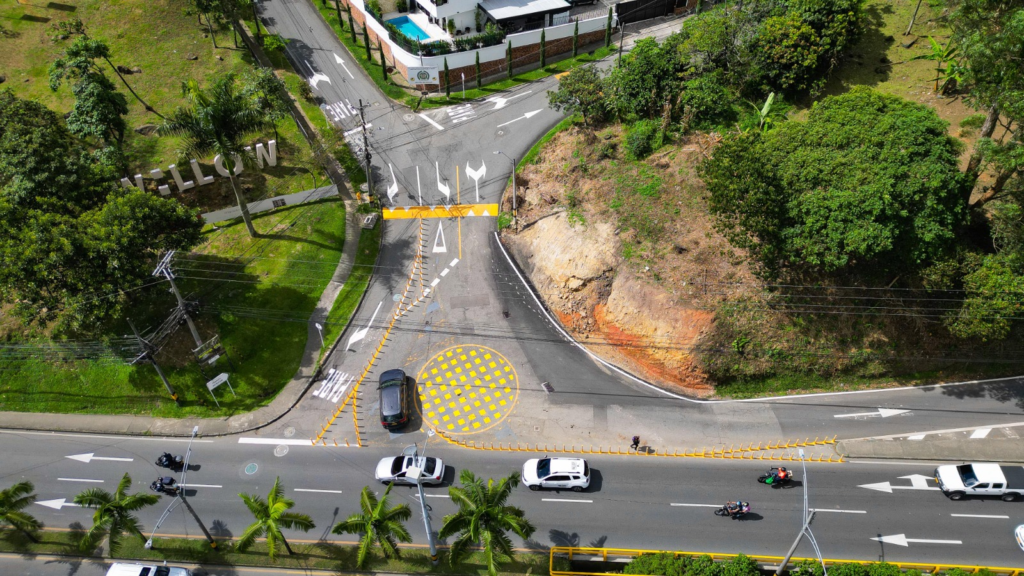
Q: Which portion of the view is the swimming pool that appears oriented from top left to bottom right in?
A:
top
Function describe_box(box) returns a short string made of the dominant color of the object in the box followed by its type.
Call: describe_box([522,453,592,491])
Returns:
white car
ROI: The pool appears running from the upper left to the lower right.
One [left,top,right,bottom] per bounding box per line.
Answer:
[389,13,435,41]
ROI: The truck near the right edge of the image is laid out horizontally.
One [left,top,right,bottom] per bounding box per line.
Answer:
[939,463,1024,502]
